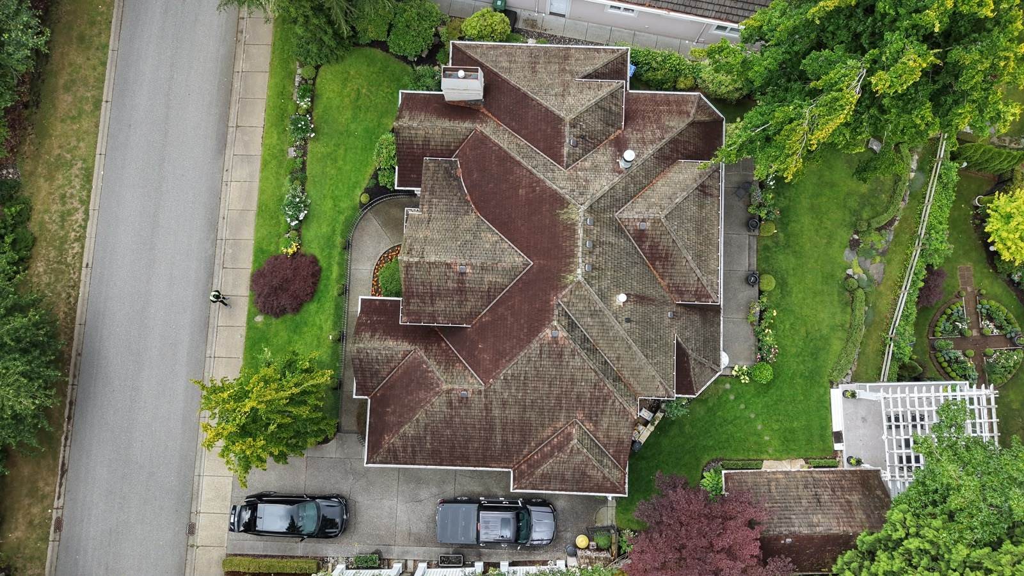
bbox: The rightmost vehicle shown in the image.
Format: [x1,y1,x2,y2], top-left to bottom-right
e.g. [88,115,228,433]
[431,494,562,556]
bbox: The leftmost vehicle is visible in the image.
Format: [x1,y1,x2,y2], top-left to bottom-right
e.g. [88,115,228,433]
[228,490,350,547]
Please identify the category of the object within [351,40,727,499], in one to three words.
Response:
house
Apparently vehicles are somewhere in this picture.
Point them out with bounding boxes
[228,490,350,547]
[431,494,562,556]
